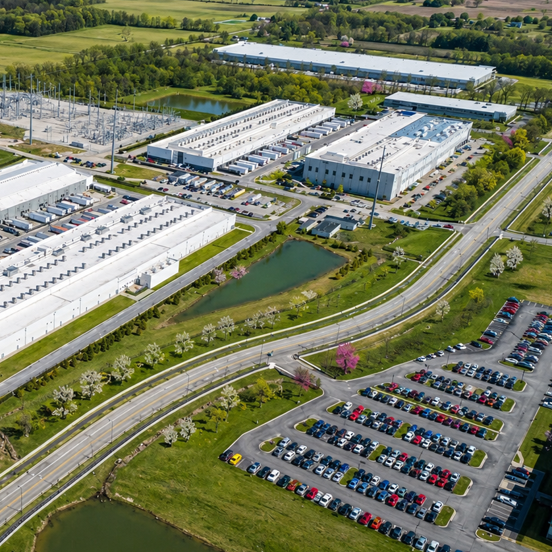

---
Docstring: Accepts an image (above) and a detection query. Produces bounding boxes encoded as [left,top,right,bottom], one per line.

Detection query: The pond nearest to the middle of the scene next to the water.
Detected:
[181,239,344,318]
